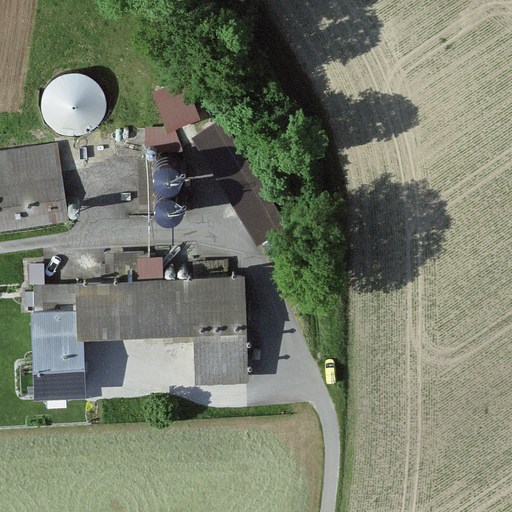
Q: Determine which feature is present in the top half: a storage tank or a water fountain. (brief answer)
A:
storage tank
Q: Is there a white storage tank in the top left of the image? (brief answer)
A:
Yes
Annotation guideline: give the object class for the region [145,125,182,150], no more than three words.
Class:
shed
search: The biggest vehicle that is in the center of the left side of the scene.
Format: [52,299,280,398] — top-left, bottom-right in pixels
[45,254,62,276]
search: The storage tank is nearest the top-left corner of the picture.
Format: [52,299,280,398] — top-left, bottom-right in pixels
[39,68,108,138]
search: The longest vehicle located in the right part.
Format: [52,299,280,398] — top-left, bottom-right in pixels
[324,358,336,384]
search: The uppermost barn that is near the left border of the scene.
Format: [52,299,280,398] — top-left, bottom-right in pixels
[0,142,68,232]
